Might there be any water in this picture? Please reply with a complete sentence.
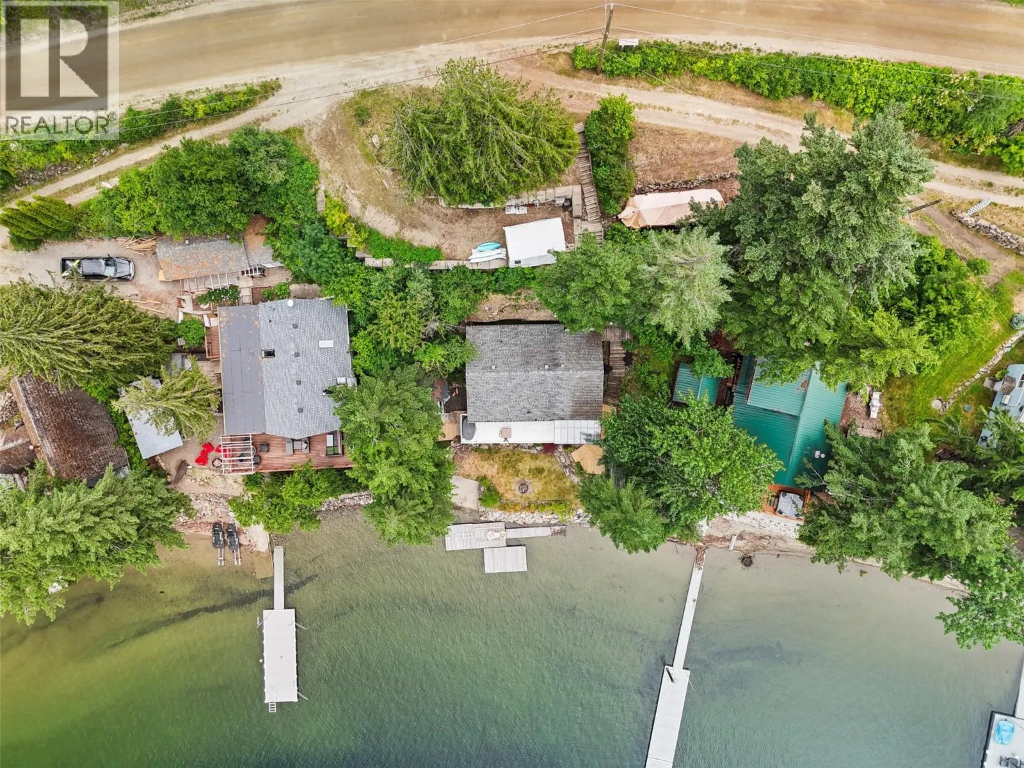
Yes, water shows up in the scene.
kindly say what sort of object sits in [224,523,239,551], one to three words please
boat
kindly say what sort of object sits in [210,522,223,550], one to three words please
boat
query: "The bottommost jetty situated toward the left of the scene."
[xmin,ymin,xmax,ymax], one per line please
[256,608,308,703]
